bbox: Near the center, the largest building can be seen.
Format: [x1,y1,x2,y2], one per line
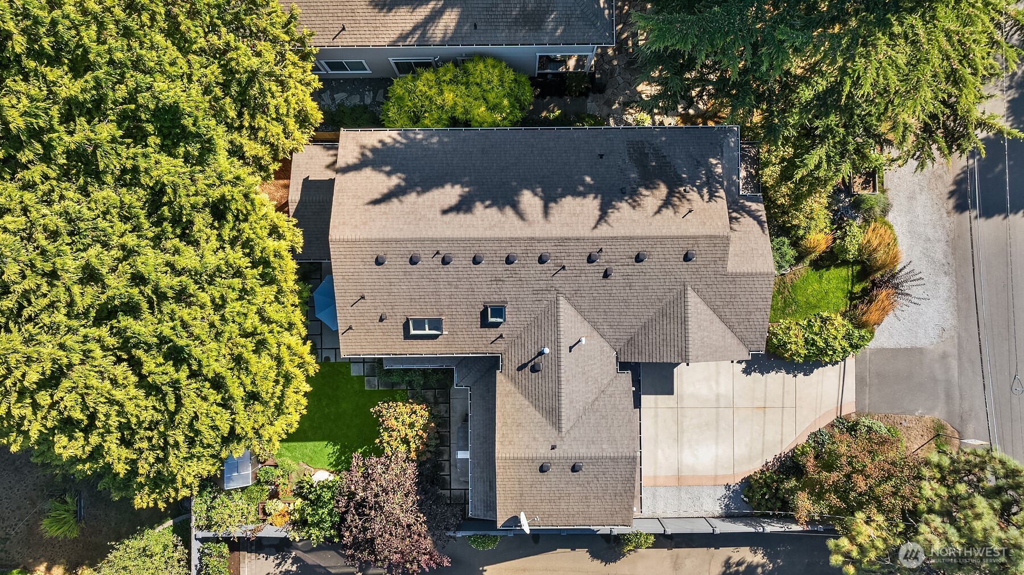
[288,127,773,529]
